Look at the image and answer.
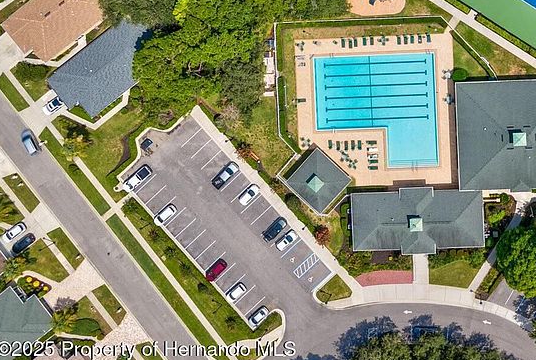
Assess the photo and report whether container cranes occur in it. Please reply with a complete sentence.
No, I find no container crane anywhere in the image.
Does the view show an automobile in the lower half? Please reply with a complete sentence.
Yes, an automobile shows up in the lower half.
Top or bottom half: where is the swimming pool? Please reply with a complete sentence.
The swimming pool sits in the top half of the picture.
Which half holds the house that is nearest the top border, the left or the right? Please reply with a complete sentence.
The house that is nearest the top border sits on the left side.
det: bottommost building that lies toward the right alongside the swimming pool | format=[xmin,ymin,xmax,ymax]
[350,187,485,255]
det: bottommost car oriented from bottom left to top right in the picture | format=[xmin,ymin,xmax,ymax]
[248,306,270,327]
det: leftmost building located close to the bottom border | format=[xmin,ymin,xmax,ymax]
[0,284,59,360]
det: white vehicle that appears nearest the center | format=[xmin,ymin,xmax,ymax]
[238,184,261,205]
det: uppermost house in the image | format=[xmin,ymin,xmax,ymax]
[3,0,117,64]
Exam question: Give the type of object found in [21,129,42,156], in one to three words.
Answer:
car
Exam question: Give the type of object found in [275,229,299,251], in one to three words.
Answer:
car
